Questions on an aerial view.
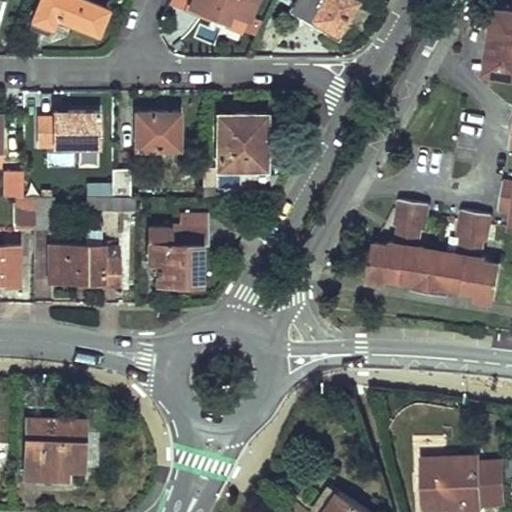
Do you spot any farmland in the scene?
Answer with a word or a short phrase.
No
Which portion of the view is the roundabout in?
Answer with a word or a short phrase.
bottom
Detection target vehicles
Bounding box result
[189,74,212,84]
[161,73,181,83]
[280,200,294,219]
[40,96,50,114]
[121,122,132,148]
[126,10,138,30]
[330,136,344,148]
[344,356,365,366]
[496,150,507,170]
[74,352,104,366]
[8,130,18,153]
[126,367,147,382]
[460,124,482,137]
[192,333,216,344]
[250,74,272,84]
[460,111,485,126]
[469,26,480,44]
[417,149,428,172]
[430,151,442,174]
[201,412,223,423]
[6,74,26,84]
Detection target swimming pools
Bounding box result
[219,178,240,189]
[194,24,218,45]
[79,153,100,168]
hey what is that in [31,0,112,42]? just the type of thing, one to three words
house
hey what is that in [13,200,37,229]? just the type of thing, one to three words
shed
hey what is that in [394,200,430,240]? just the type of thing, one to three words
building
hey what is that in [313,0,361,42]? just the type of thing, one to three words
house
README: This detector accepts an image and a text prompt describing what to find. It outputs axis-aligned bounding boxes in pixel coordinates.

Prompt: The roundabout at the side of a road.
[146,294,304,457]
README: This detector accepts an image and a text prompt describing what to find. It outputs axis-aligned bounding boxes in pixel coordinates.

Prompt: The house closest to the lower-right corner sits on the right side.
[420,456,505,512]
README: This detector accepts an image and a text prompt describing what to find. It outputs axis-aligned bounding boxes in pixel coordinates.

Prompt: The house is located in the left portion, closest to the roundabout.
[148,212,210,294]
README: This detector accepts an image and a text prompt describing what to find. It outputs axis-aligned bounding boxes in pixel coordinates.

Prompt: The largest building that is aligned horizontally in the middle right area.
[366,243,501,311]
